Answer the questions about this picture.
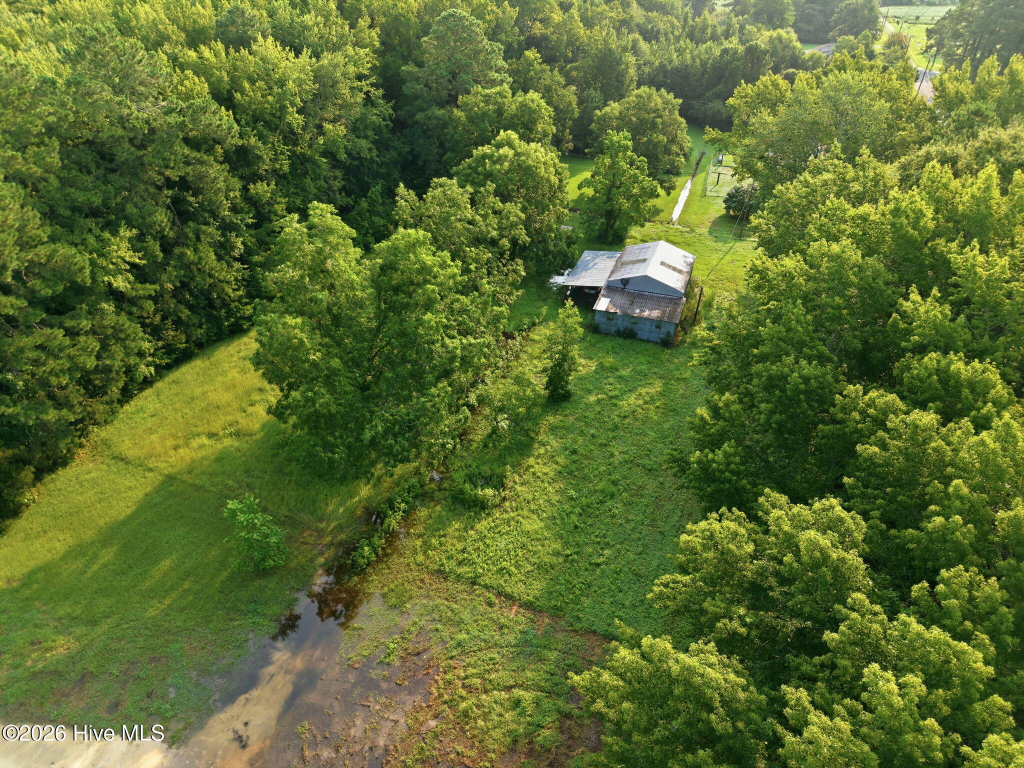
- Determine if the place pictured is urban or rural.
rural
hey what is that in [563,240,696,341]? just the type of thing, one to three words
barn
